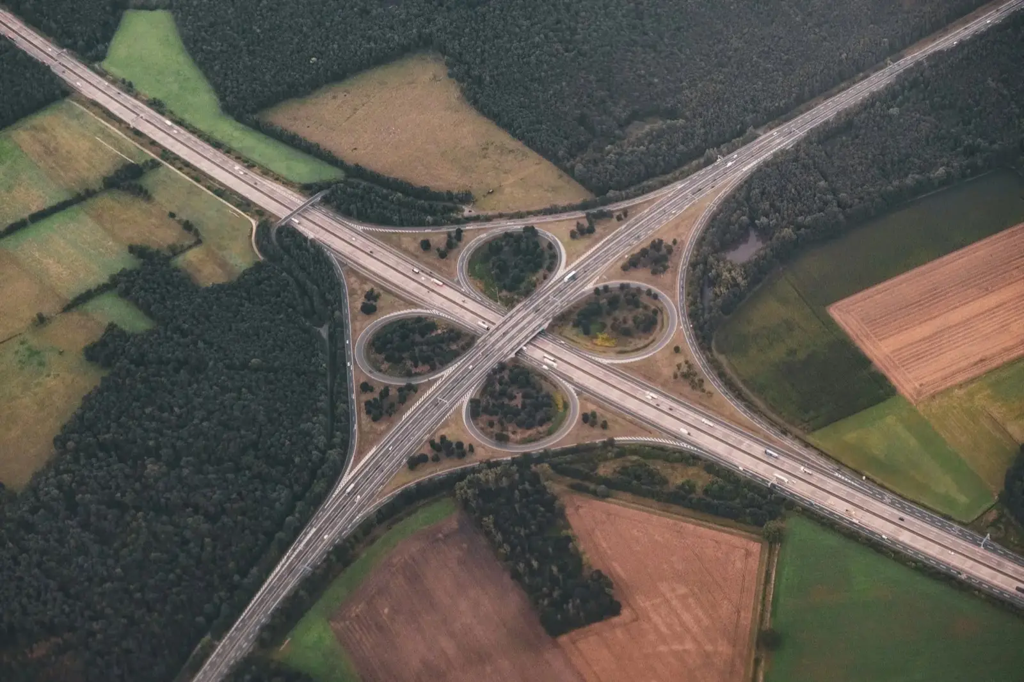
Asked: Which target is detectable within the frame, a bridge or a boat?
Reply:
bridge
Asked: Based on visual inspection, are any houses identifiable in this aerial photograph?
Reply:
No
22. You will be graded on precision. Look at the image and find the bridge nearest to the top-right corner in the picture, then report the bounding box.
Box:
[473,300,556,361]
